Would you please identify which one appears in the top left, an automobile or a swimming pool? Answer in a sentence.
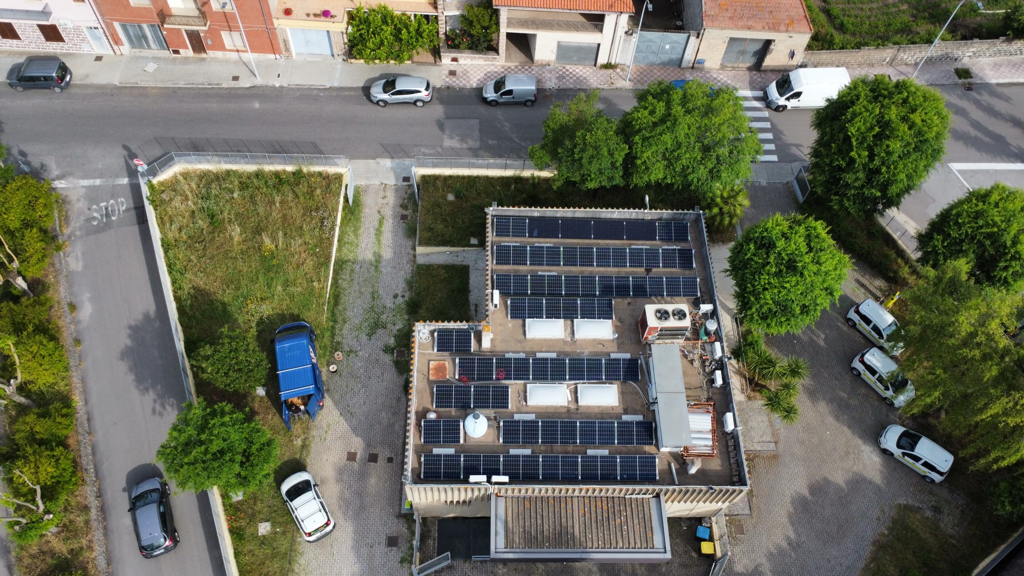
It is an automobile that can be seen in the top left.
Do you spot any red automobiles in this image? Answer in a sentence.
No, I find no red automobile anywhere in the image.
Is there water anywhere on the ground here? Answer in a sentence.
No, the picture contains no water.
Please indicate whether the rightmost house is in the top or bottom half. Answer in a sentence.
The rightmost house is in the top half of the image.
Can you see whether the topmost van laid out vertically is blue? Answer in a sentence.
Yes, the topmost van laid out vertically is indeed blue.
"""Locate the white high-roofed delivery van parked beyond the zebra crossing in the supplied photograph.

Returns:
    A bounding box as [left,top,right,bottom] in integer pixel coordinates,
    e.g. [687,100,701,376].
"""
[764,67,854,112]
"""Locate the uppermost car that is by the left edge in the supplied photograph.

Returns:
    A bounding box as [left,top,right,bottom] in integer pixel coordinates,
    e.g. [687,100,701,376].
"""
[7,59,71,92]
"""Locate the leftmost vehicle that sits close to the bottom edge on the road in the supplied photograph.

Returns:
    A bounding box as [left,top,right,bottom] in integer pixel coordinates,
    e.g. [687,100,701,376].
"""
[121,477,179,572]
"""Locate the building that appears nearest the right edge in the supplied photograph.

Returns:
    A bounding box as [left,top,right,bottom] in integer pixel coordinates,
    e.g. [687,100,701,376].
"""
[692,0,821,71]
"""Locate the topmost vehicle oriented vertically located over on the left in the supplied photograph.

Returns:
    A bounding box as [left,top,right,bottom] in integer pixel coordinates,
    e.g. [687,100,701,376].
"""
[274,325,327,426]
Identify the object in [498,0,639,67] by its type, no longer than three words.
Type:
house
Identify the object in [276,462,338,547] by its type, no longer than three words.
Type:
car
